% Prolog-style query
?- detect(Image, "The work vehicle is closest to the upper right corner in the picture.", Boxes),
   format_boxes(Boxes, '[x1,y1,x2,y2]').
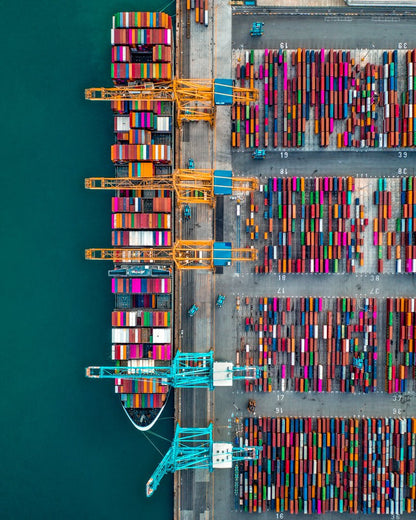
[251,24,265,37]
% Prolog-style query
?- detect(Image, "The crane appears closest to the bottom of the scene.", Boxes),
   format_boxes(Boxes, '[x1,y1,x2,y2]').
[147,420,263,499]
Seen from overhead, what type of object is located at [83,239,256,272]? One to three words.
container crane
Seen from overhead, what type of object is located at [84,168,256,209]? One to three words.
container crane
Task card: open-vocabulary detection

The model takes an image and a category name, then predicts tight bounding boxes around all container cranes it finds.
[147,420,263,499]
[84,71,257,129]
[84,168,256,209]
[83,349,263,392]
[83,239,256,272]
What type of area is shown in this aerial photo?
port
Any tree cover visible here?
No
